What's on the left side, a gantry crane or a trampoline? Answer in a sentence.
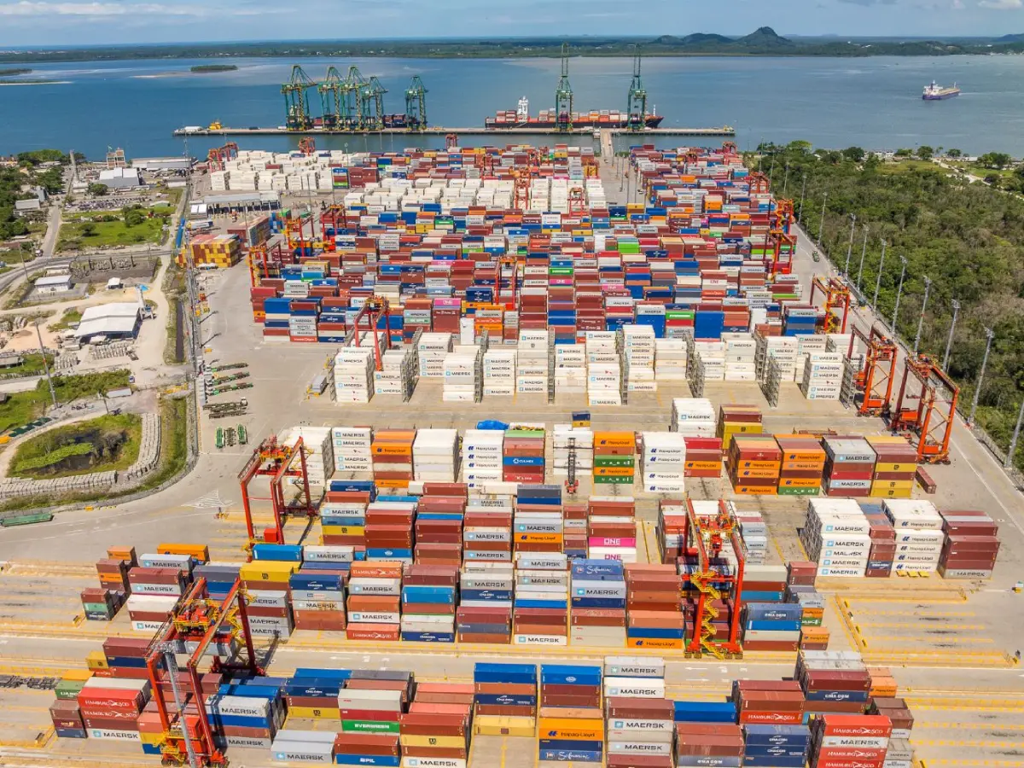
Visible on the left side is a gantry crane.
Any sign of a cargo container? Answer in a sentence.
Yes, there is a cargo container in the image.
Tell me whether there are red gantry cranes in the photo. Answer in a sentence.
Yes, there's a red gantry crane down there.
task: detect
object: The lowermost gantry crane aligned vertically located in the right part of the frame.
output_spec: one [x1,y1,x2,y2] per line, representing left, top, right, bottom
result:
[677,500,751,659]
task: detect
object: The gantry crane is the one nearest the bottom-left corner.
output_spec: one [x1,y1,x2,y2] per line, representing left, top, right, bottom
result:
[139,573,274,764]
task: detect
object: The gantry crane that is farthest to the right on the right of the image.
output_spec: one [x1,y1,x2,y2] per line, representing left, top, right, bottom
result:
[886,364,972,467]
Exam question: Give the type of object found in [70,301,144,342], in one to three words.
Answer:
shed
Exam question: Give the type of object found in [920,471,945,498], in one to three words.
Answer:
shipping container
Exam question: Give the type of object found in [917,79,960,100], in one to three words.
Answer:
ship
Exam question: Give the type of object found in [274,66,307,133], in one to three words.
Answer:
crane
